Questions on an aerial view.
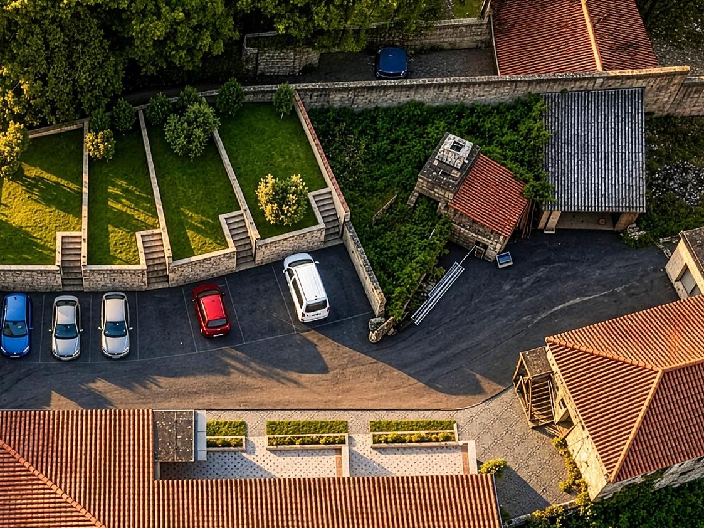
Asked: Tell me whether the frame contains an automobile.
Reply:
Yes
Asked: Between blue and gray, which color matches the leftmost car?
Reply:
blue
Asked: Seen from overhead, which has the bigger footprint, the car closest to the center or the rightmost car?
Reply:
the car closest to the center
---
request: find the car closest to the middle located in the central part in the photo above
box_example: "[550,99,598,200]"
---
[282,254,326,326]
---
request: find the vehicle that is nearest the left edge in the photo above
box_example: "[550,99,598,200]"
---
[0,294,33,359]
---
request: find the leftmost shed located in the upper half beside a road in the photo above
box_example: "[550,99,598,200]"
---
[413,133,530,265]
